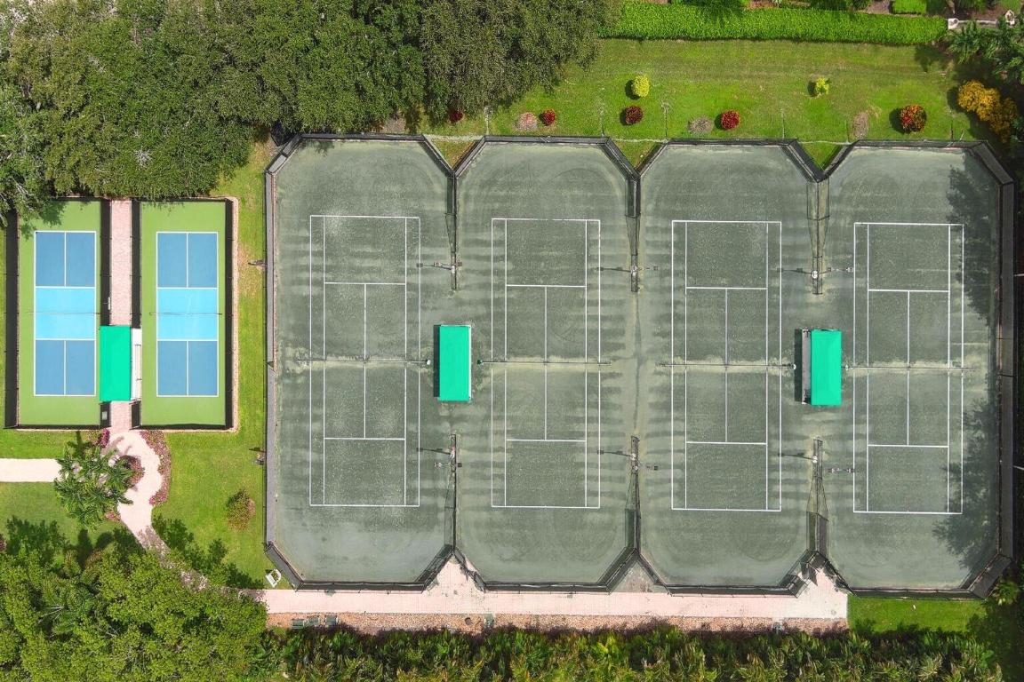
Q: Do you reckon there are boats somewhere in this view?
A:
No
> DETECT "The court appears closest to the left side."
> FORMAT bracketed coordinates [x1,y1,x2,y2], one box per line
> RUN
[19,201,110,426]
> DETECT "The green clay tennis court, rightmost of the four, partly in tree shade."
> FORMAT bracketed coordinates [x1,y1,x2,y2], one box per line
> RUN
[816,148,996,589]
